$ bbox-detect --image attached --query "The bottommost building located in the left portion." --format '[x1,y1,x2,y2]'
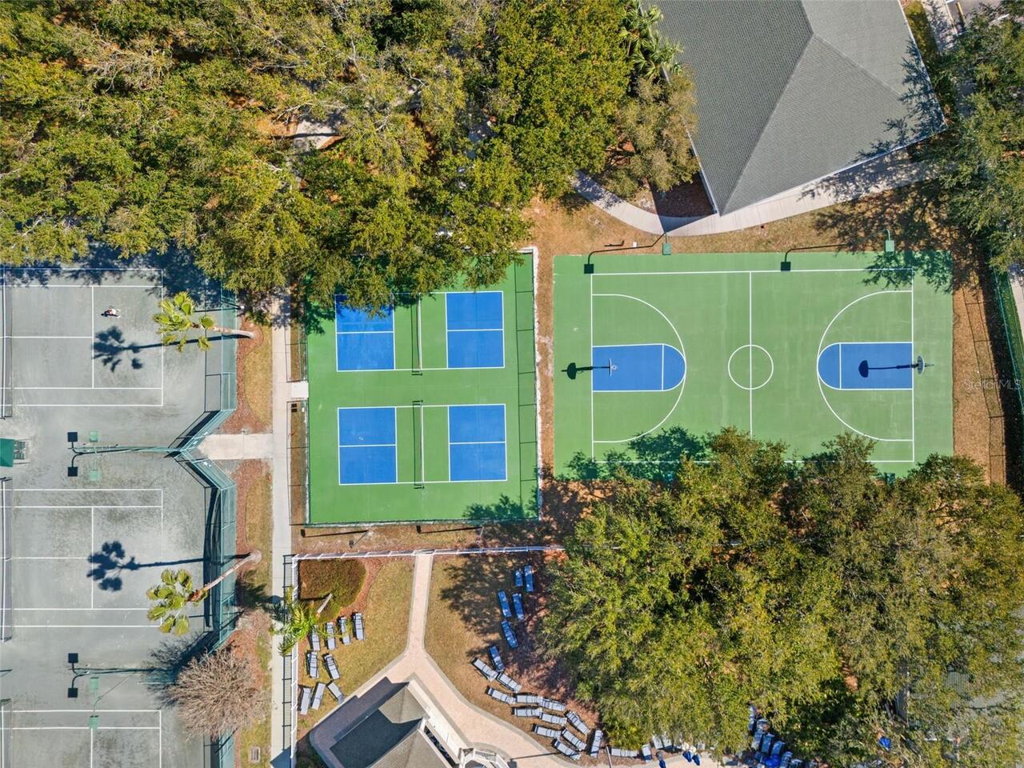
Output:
[328,677,485,768]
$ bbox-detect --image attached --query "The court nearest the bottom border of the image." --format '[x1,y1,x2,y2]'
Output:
[0,670,236,768]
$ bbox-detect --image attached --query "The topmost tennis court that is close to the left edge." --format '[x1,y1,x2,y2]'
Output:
[0,204,237,449]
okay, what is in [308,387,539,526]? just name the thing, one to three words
sports court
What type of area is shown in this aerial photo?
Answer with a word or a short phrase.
sports ground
